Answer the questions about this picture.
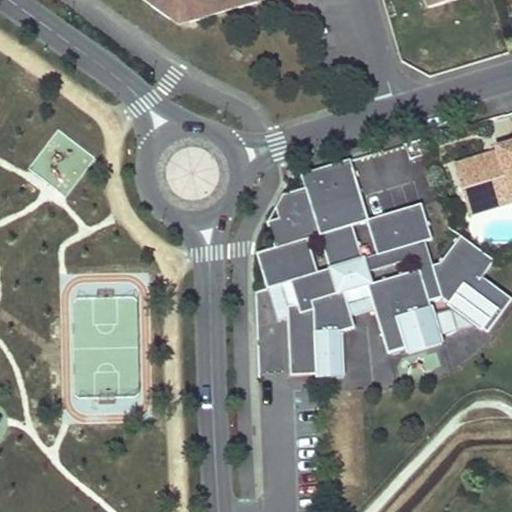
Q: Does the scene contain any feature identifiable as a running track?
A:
Yes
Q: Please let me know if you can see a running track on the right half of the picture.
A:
No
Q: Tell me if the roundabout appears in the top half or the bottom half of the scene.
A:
top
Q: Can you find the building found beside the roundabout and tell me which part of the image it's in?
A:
right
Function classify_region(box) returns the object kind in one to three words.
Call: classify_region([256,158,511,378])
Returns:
building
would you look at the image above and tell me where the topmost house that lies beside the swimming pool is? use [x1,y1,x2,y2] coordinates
[454,142,512,214]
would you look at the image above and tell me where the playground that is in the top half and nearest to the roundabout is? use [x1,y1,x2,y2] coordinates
[28,129,96,198]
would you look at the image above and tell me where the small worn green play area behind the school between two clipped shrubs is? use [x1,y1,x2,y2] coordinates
[397,353,441,383]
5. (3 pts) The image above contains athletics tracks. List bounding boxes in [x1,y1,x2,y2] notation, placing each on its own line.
[60,273,152,424]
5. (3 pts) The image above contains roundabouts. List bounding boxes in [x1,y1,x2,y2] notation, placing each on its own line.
[136,110,256,244]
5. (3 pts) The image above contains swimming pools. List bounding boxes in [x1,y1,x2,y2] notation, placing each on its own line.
[468,204,512,242]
